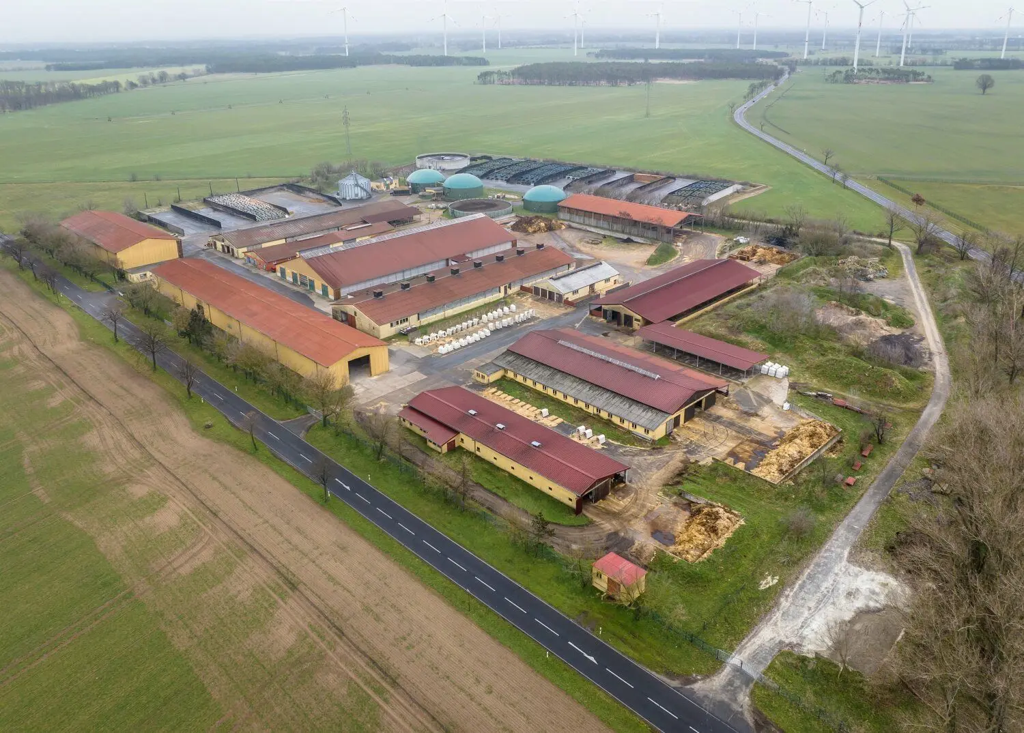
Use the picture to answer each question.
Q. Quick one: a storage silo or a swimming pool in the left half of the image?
storage silo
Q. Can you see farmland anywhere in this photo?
Yes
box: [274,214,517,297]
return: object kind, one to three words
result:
barn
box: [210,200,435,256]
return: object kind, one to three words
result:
barn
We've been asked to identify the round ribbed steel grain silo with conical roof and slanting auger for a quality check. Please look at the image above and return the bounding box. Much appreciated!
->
[336,169,371,200]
